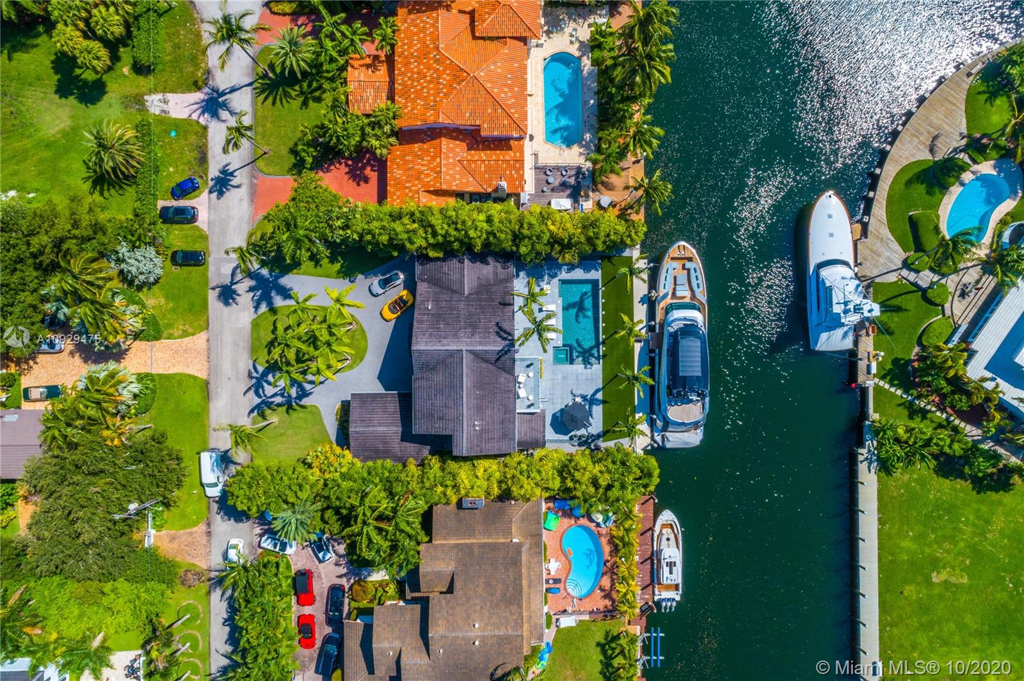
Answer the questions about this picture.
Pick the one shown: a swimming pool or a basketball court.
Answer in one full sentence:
Looking from above, you can make out a swimming pool.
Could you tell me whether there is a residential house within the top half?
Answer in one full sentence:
Yes, a residential house shows up within the top half.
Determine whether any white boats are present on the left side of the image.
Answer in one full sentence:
No, there is no white boat on the left side of the image.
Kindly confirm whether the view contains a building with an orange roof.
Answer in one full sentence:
Yes, the image includes a building with an orange roof.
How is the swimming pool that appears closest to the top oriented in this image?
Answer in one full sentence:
In this picture, the swimming pool that appears closest to the top lies from top to bottom.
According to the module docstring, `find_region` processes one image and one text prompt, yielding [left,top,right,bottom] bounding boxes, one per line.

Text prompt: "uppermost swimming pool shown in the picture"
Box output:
[542,48,585,155]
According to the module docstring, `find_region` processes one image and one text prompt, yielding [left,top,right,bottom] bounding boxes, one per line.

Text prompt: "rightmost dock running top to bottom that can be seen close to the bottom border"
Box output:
[855,449,880,681]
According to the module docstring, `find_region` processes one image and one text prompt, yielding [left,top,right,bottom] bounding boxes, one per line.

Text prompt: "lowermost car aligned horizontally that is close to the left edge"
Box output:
[22,384,64,402]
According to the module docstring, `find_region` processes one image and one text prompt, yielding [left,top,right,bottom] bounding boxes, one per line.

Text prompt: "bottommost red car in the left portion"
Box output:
[297,614,317,648]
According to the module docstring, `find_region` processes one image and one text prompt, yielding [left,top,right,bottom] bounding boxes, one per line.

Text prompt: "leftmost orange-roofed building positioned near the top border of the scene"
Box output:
[348,0,541,212]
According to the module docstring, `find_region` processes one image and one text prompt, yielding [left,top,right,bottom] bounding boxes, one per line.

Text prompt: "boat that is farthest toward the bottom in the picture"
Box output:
[654,506,682,609]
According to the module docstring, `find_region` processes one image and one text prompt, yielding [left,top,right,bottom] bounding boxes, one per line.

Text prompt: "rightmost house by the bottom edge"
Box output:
[344,491,543,681]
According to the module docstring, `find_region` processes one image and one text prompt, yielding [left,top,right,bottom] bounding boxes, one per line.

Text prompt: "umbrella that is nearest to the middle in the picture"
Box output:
[563,403,591,430]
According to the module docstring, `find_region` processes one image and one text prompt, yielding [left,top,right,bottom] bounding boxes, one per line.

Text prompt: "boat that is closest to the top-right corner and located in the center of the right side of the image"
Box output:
[799,190,894,359]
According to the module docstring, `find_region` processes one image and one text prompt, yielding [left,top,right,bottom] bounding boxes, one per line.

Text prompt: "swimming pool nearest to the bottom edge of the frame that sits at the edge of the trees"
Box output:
[559,522,606,609]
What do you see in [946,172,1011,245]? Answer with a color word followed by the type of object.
blue swimming pool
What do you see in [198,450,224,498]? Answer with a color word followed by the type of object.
white vehicle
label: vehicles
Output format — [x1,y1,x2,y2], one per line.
[161,205,201,223]
[309,536,336,565]
[172,249,206,266]
[367,269,407,297]
[29,336,68,354]
[198,450,224,498]
[315,629,342,677]
[259,534,296,557]
[169,176,203,201]
[22,384,64,402]
[224,536,244,567]
[297,614,317,648]
[294,568,314,605]
[325,584,346,627]
[378,291,415,321]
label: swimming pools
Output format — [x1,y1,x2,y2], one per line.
[553,347,570,365]
[542,48,585,155]
[559,522,606,609]
[946,172,1011,245]
[557,278,602,366]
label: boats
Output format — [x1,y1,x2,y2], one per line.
[653,241,710,448]
[799,190,894,359]
[654,506,682,609]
